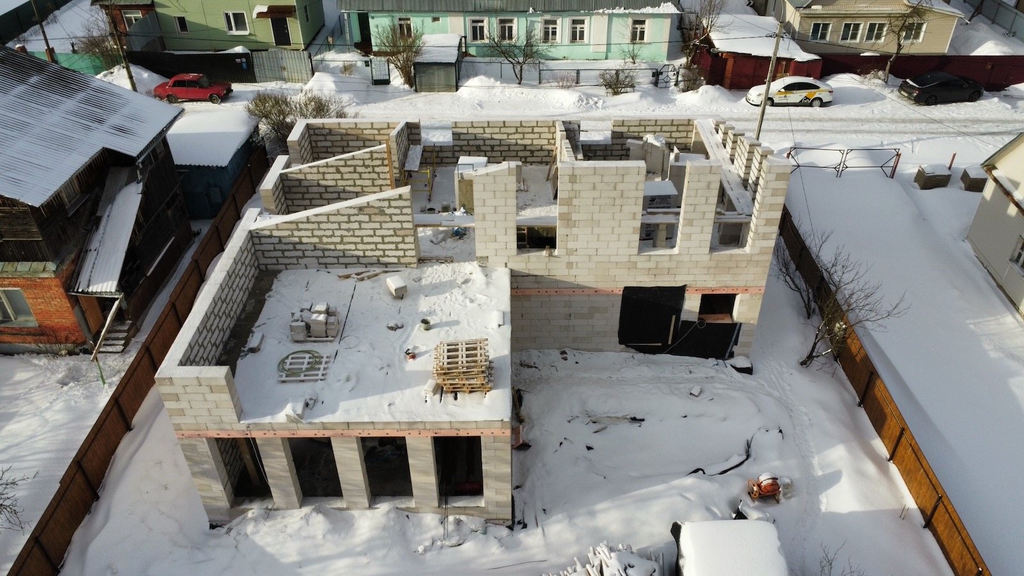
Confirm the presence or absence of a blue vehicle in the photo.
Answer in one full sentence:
No, this view has no blue vehicle in it.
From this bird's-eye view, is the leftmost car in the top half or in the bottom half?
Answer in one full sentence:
The top half of the photo is where the leftmost car is.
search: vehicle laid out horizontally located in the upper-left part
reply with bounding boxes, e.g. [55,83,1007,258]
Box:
[152,72,238,105]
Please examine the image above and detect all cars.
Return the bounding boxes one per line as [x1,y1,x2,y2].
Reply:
[744,68,838,105]
[152,72,238,105]
[898,69,983,105]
